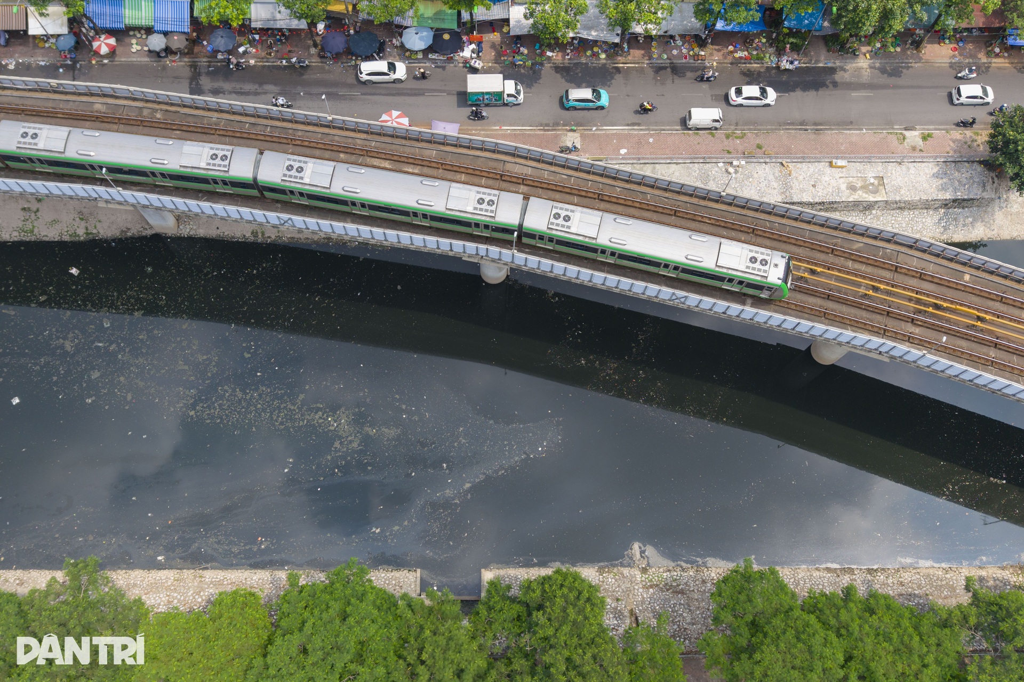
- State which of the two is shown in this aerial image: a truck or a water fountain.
truck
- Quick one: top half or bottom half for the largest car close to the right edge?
top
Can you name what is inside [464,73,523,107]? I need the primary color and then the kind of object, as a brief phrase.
white truck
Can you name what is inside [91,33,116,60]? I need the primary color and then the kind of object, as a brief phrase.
white umbrella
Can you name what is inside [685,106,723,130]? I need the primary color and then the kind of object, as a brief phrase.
white vehicle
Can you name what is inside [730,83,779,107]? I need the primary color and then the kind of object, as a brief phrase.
white car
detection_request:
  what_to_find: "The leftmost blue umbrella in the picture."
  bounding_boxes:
[55,34,79,58]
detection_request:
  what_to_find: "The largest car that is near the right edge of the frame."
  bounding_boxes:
[954,82,997,106]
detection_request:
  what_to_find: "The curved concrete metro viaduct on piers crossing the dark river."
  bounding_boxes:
[0,92,1024,409]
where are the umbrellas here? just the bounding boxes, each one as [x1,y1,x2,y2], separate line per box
[321,32,348,59]
[402,27,433,53]
[431,115,460,133]
[55,34,79,58]
[379,106,409,124]
[146,34,167,58]
[209,29,236,57]
[165,33,189,58]
[432,29,462,58]
[91,33,116,60]
[348,31,380,58]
